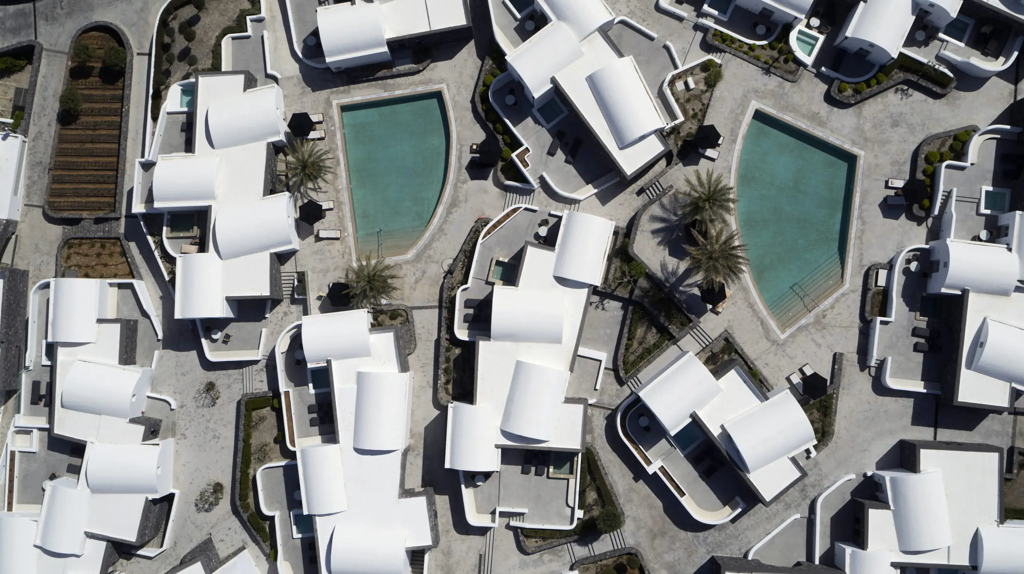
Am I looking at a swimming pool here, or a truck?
swimming pool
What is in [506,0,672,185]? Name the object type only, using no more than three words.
house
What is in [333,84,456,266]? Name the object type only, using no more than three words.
swimming pool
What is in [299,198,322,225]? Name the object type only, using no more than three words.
umbrella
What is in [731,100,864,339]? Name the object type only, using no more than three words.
swimming pool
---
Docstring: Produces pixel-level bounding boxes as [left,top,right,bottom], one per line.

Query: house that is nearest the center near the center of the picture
[445,211,615,472]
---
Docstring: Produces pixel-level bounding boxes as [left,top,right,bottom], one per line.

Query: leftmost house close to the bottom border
[0,439,177,574]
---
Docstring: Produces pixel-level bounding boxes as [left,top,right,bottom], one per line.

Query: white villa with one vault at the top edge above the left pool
[317,0,474,71]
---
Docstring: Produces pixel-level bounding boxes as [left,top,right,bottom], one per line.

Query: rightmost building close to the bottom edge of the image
[831,436,1024,574]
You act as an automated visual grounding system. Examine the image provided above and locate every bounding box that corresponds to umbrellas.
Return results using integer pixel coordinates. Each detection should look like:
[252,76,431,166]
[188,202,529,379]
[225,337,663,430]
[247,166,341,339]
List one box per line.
[479,141,505,165]
[328,284,354,308]
[299,198,322,225]
[287,113,314,137]
[899,178,928,205]
[801,372,826,400]
[692,125,720,151]
[699,281,725,307]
